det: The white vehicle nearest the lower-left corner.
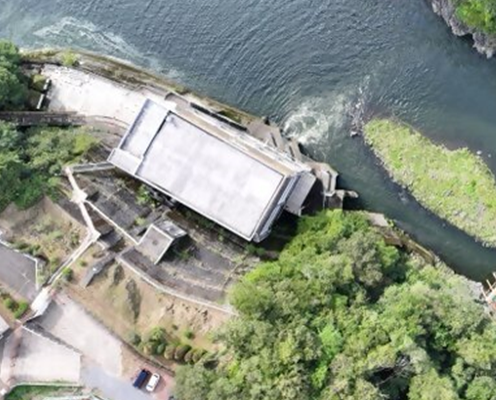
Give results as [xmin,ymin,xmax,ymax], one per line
[145,372,161,393]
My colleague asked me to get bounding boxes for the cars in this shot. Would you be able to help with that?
[145,372,161,393]
[133,367,150,389]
